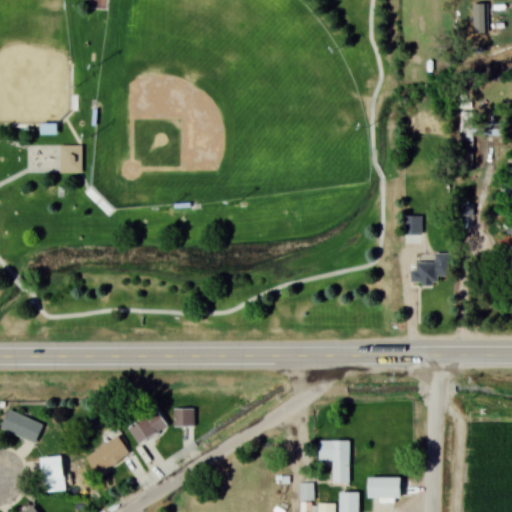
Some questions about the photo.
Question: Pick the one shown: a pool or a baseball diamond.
baseball diamond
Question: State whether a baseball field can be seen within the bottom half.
No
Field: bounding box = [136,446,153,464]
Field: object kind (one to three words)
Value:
camper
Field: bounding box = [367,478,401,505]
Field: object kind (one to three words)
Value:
house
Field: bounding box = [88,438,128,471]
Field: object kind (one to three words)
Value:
house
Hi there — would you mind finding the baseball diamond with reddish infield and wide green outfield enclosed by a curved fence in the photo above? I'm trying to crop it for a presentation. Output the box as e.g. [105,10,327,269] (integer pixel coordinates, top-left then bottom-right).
[90,0,370,209]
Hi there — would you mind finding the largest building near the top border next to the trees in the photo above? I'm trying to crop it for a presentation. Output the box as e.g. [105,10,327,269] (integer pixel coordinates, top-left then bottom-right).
[474,2,489,34]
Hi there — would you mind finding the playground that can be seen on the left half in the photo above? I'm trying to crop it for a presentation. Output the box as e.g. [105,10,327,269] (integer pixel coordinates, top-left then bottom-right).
[27,144,84,174]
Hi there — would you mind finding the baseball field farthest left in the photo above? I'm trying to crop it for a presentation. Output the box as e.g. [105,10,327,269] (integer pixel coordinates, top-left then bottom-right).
[0,42,74,124]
